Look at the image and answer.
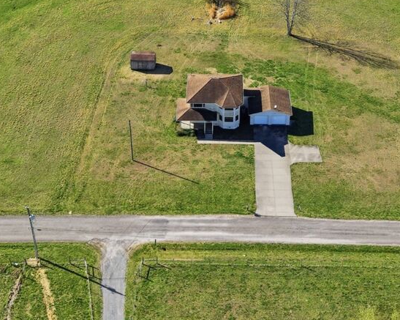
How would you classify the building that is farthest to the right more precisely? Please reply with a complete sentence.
What you see as the building that is farthest to the right is a house.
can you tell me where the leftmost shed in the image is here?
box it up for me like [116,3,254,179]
[129,50,155,69]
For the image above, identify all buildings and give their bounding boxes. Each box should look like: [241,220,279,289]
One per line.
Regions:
[129,50,155,69]
[176,74,294,141]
